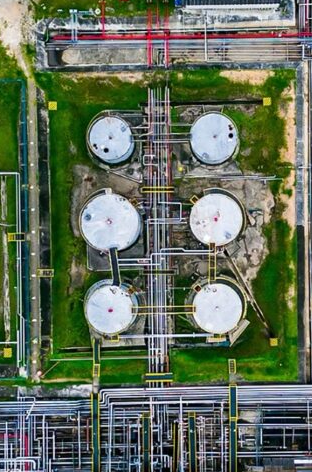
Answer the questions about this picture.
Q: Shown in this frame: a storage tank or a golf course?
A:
storage tank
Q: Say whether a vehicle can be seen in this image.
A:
No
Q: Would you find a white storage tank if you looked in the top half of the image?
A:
Yes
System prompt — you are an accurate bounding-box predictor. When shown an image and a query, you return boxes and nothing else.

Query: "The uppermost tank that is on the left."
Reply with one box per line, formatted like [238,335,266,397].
[84,108,139,170]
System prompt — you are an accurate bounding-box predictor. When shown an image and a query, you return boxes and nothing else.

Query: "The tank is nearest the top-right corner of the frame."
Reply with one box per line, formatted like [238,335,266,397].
[190,114,241,168]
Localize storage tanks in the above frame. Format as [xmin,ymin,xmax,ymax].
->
[190,114,241,168]
[191,277,248,333]
[84,281,142,336]
[189,186,250,250]
[84,108,139,170]
[76,183,145,257]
